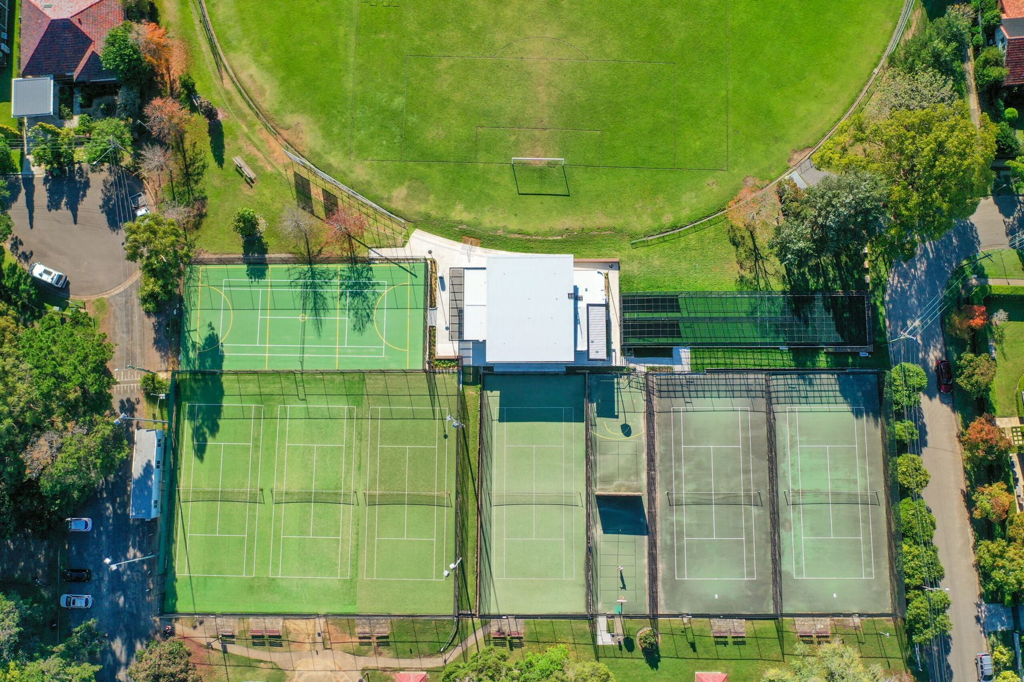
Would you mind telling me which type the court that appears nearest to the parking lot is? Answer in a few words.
tennis court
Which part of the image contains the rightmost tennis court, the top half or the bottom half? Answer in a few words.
bottom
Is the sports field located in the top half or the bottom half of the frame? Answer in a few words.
top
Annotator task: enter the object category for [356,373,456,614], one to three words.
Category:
tennis court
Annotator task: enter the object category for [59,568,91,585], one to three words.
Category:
car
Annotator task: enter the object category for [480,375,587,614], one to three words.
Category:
tennis court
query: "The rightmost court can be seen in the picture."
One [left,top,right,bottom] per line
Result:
[773,374,892,613]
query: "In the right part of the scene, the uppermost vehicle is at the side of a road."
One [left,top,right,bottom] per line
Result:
[937,359,957,392]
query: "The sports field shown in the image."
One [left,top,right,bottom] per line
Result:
[209,0,909,240]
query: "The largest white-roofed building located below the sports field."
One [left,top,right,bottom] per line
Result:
[450,254,609,372]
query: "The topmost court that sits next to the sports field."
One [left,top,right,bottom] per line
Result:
[180,262,426,371]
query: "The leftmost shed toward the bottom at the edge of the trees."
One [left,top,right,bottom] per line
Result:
[130,430,162,520]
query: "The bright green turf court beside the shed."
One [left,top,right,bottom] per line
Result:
[164,373,271,614]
